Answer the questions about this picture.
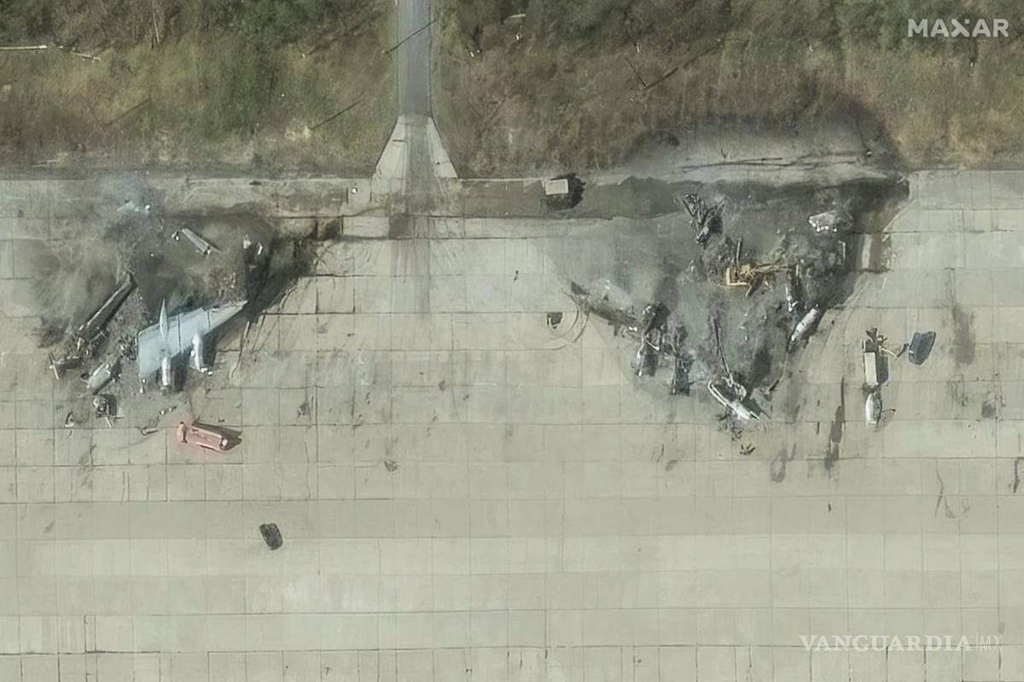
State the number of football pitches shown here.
0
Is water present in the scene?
No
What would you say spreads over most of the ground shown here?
paved ground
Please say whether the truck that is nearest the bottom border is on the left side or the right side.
left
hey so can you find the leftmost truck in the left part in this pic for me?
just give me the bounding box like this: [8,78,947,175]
[178,417,226,453]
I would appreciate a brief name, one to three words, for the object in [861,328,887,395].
truck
